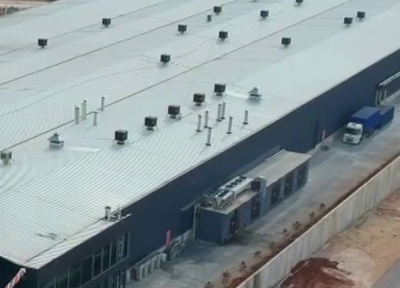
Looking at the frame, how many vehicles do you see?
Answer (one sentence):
In total, 1 vehicle can be seen.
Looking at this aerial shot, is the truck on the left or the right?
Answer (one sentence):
The truck appears in the right half of the scene.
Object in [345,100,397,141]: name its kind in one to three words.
truck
